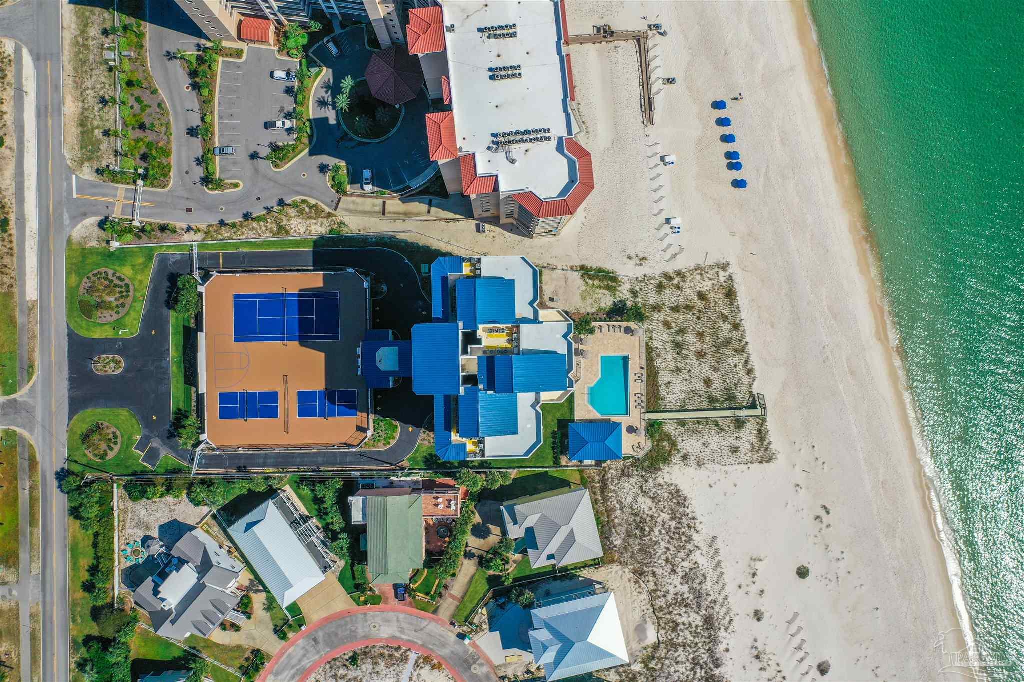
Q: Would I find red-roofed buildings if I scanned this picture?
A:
Yes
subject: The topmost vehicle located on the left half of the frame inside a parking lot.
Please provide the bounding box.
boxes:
[324,35,341,58]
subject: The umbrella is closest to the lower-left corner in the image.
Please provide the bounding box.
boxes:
[145,539,160,554]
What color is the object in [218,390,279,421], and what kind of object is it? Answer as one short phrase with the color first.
blue sports court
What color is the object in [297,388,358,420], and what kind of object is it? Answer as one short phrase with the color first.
blue sports court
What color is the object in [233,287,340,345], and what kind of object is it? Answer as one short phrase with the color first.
blue tennis court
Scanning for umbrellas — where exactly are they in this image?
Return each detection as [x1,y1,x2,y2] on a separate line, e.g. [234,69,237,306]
[737,179,746,189]
[725,134,735,143]
[730,151,740,160]
[633,427,644,438]
[732,161,742,170]
[581,335,592,346]
[145,539,160,554]
[716,101,726,110]
[721,117,730,127]
[582,348,593,359]
[632,326,643,337]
